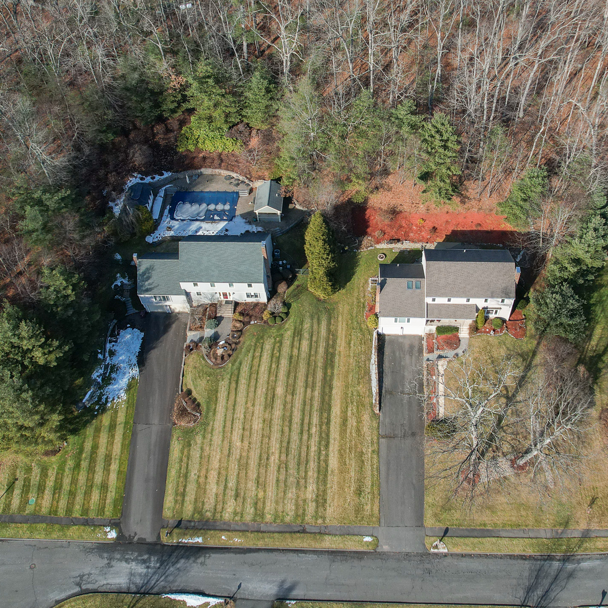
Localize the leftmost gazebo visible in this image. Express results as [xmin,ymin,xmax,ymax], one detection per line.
[124,186,155,218]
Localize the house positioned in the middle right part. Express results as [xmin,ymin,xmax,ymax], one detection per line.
[373,250,522,337]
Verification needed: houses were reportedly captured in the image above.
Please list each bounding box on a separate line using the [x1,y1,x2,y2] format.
[132,234,273,321]
[373,250,522,337]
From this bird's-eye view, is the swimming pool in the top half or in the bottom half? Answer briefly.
top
